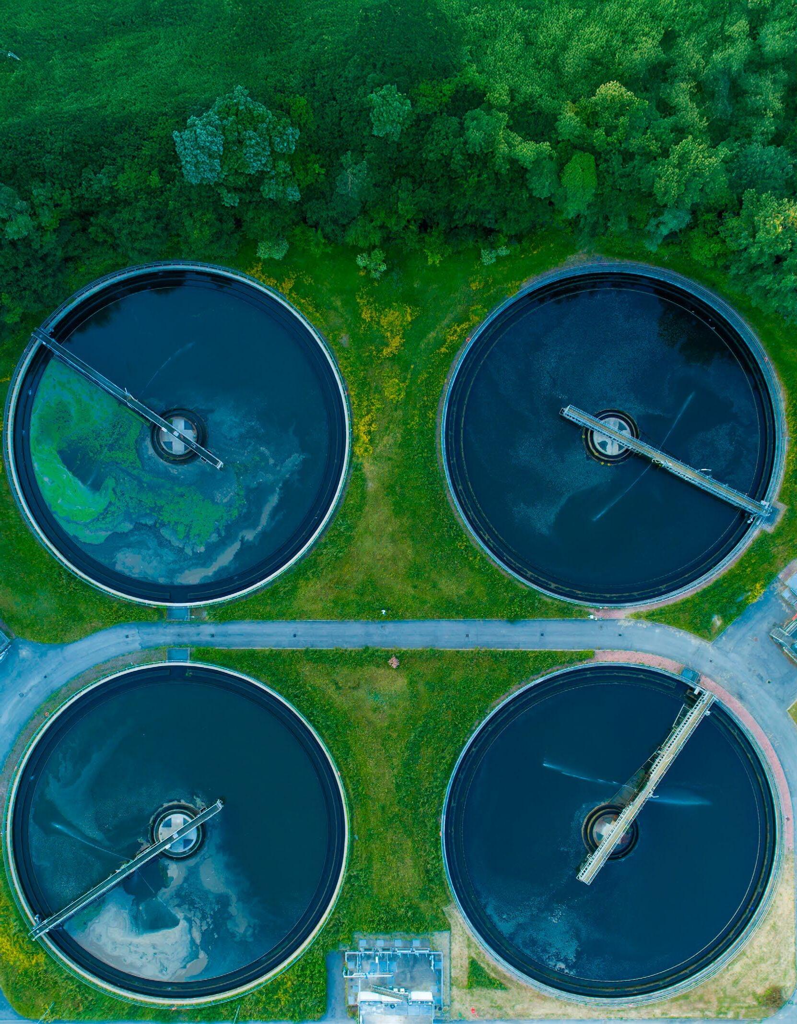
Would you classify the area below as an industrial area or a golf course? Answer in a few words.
industrial area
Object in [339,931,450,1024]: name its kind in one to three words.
building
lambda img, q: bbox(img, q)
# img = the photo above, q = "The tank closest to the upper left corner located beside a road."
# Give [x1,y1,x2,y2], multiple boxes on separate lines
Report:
[3,262,349,608]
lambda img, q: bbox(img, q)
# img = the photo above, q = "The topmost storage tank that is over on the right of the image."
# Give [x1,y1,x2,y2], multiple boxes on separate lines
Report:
[440,261,787,608]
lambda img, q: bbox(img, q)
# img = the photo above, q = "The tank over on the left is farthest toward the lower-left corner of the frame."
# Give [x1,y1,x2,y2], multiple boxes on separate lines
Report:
[2,663,348,1010]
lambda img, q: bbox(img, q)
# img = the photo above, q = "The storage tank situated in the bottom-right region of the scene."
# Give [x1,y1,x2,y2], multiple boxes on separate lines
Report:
[440,663,787,1011]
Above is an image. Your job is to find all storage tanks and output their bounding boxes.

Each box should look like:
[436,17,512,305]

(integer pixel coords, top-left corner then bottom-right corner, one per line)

[2,663,348,1010]
[3,262,349,608]
[440,663,787,1011]
[440,261,787,608]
